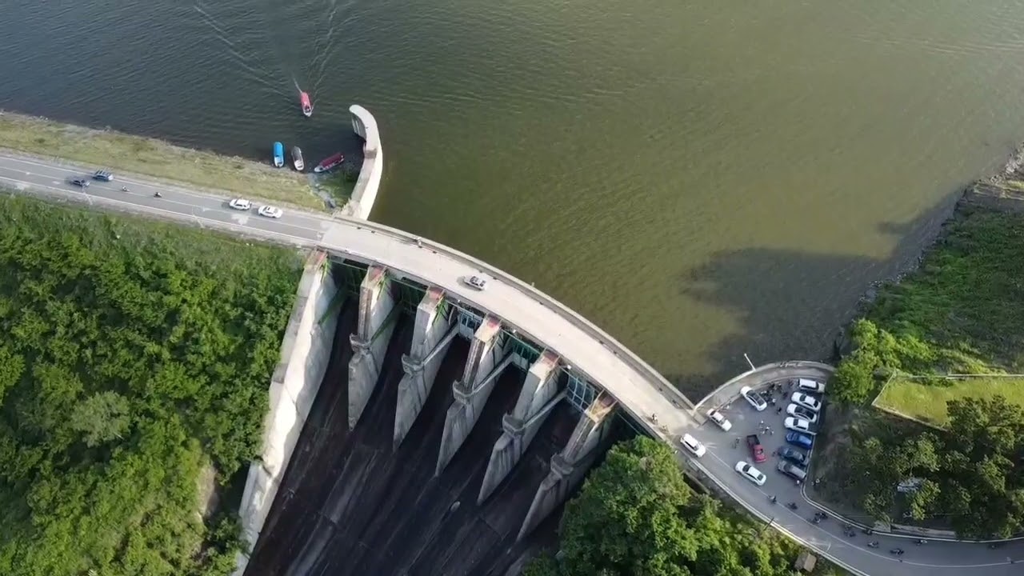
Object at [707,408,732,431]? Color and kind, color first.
white car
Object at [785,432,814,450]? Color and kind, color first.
blue car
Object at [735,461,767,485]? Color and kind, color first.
white car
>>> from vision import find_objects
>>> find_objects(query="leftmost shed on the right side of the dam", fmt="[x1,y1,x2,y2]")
[792,545,819,573]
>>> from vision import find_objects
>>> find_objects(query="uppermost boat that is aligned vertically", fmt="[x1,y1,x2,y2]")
[299,89,311,117]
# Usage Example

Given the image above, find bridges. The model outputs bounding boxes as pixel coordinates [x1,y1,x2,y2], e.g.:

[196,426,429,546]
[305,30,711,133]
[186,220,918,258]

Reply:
[313,214,696,447]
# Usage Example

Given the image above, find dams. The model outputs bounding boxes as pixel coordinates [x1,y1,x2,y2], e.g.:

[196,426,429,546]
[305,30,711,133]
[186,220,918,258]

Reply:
[218,246,683,576]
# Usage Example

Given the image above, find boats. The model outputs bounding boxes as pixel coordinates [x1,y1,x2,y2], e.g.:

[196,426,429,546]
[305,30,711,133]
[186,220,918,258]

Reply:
[291,144,302,172]
[299,89,311,117]
[314,153,345,172]
[272,140,283,168]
